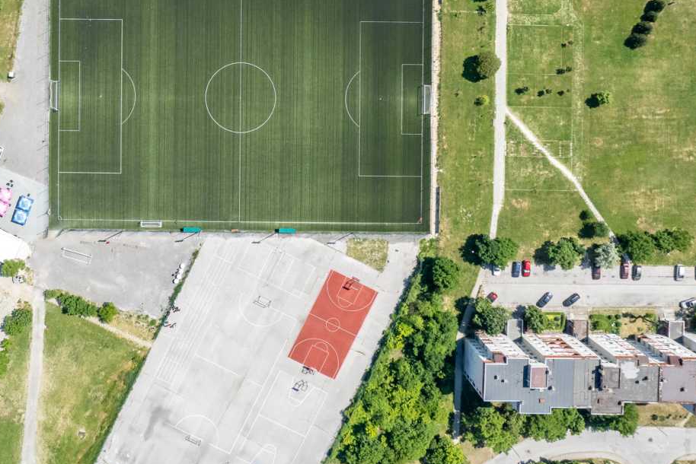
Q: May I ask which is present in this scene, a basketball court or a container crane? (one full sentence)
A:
It is a basketball court that can be seen here.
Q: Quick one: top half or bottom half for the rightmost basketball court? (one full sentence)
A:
You can find the rightmost basketball court in the bottom half.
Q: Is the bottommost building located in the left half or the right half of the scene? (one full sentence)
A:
You can find the bottommost building on the right side of the picture.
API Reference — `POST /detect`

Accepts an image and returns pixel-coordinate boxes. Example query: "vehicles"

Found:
[675,263,683,281]
[563,293,579,307]
[512,262,520,277]
[620,261,629,278]
[522,259,531,277]
[493,262,501,278]
[591,264,601,281]
[537,291,552,307]
[681,297,696,308]
[632,265,641,281]
[485,289,500,305]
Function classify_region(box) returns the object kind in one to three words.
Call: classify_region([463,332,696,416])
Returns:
building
